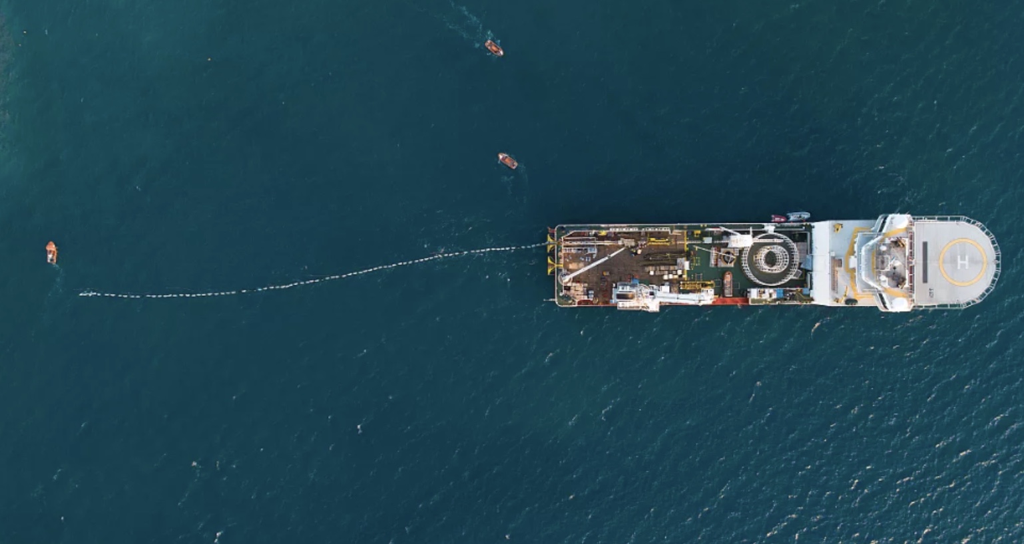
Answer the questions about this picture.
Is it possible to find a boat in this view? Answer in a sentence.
Yes, a boat is visible in the scene.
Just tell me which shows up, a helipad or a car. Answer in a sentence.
Looking from above, you can make out a helipad.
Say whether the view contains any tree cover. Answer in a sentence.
No, the picture contains no tree cover.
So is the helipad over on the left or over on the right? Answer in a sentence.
The helipad appears in the right half of the scene.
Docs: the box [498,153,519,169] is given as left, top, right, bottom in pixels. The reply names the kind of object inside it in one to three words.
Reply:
boat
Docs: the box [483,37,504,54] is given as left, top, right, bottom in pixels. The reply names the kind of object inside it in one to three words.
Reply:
boat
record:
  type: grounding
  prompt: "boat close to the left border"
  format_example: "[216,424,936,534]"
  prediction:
[44,241,57,265]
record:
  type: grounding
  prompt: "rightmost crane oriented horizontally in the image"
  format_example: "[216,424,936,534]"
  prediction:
[612,281,714,311]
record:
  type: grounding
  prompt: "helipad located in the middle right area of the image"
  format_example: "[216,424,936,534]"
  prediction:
[911,216,1001,309]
